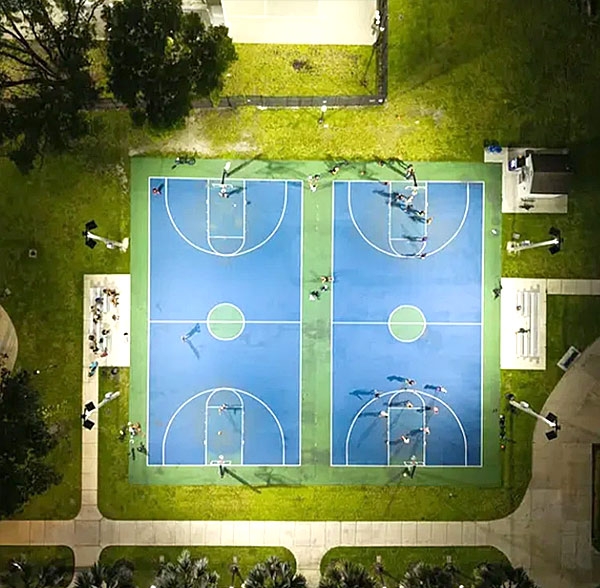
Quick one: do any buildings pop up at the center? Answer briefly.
No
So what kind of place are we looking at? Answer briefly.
sports ground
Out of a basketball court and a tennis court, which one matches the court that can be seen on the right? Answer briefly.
basketball court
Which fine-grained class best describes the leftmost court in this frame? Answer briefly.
basketball court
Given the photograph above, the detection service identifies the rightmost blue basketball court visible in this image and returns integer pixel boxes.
[315,160,502,487]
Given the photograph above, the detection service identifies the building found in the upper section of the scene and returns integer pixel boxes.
[520,149,577,199]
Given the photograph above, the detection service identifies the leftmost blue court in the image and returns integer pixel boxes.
[129,158,318,486]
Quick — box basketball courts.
[129,158,318,486]
[315,160,502,487]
